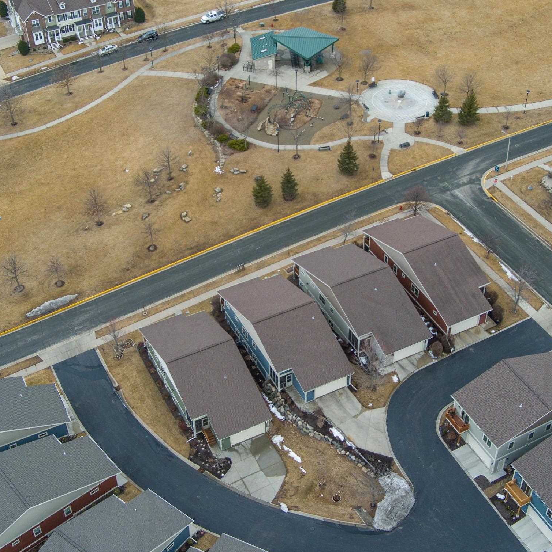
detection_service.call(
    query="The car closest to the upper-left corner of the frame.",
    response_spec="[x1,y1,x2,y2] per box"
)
[96,41,120,54]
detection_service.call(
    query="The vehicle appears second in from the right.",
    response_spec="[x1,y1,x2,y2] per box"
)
[137,27,159,41]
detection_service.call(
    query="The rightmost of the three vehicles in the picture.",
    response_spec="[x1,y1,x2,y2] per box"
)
[200,9,227,23]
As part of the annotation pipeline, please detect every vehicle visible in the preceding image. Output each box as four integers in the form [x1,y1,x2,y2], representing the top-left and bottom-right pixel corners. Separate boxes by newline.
[96,41,120,54]
[200,9,227,23]
[137,27,159,41]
